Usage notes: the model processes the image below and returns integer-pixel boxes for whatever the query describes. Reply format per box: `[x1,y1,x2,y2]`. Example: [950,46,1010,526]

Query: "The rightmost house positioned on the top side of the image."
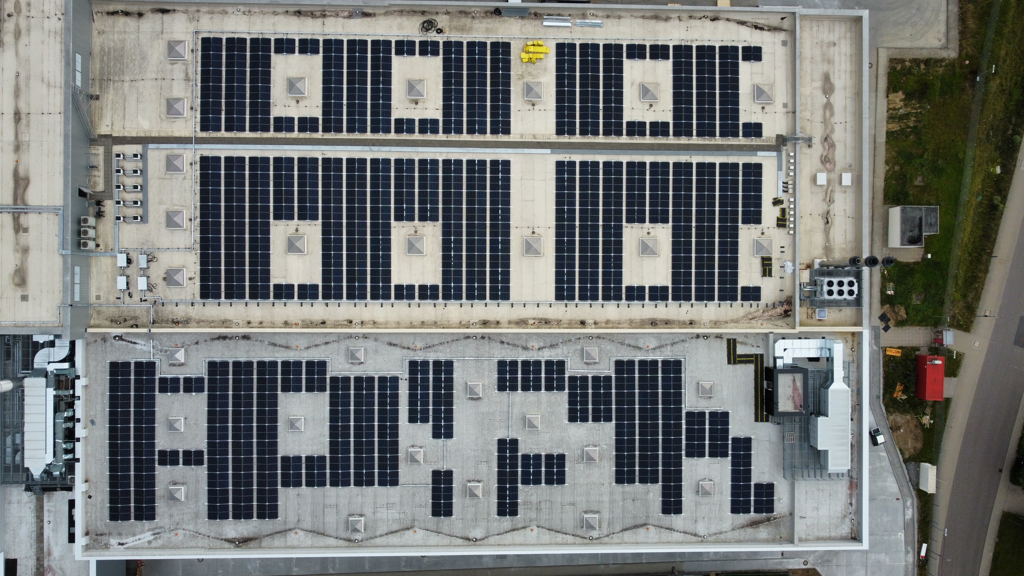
[889,206,939,247]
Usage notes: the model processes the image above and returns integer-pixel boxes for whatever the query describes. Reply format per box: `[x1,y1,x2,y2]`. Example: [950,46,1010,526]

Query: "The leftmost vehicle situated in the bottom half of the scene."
[869,427,888,451]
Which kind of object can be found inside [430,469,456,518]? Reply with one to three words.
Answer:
solar array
